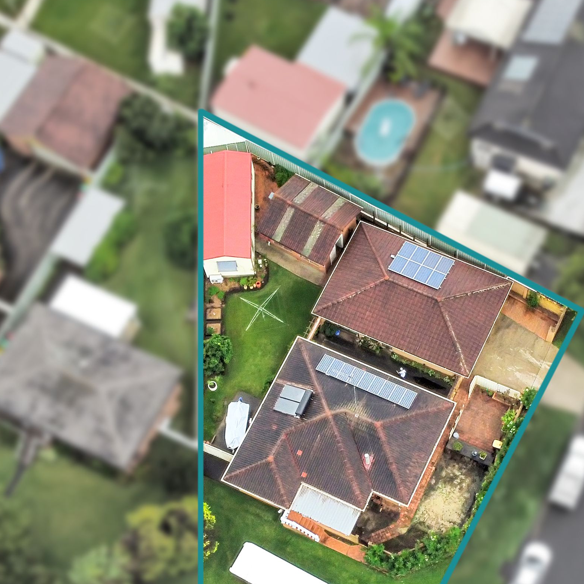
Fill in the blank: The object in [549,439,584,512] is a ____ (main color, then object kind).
white vehicle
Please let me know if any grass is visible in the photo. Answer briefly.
Yes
